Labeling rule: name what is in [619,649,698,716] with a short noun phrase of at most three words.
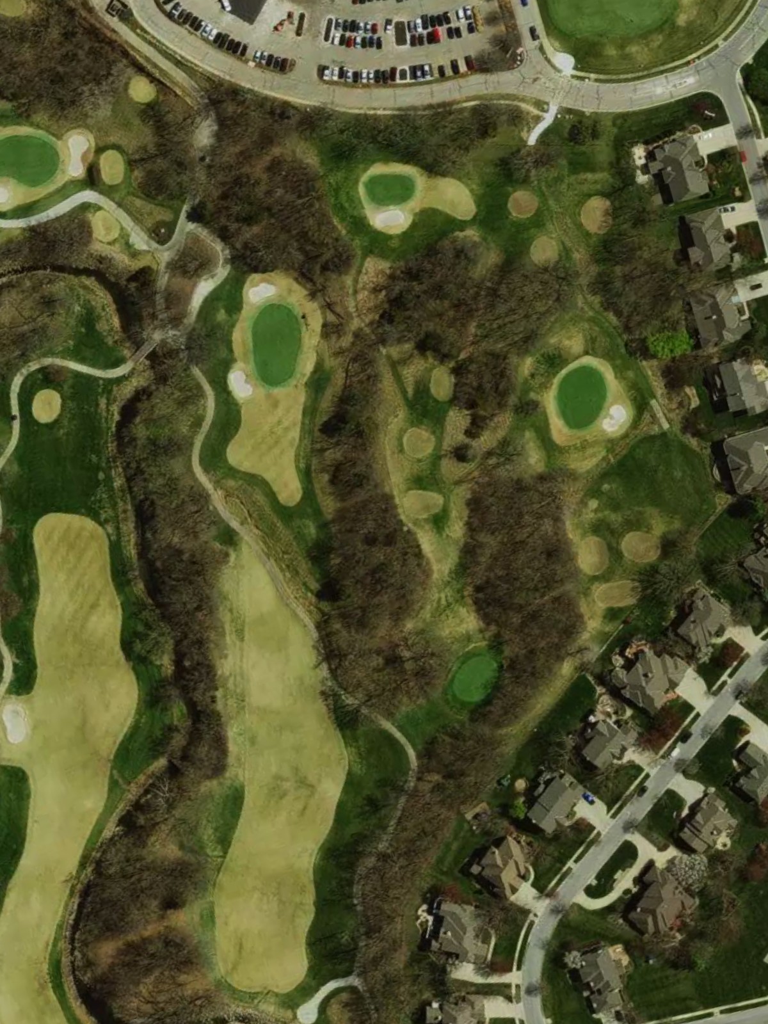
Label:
house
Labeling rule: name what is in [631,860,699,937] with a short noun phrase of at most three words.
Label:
house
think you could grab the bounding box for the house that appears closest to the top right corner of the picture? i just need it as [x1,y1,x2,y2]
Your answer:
[647,130,717,203]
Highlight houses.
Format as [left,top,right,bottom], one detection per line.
[580,947,625,1021]
[737,739,768,807]
[430,894,493,967]
[478,833,529,901]
[647,130,717,203]
[721,428,768,495]
[581,718,642,770]
[424,989,489,1024]
[619,649,698,716]
[719,360,768,419]
[526,767,590,833]
[685,278,755,350]
[678,787,742,853]
[631,860,699,937]
[687,202,735,270]
[680,588,733,651]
